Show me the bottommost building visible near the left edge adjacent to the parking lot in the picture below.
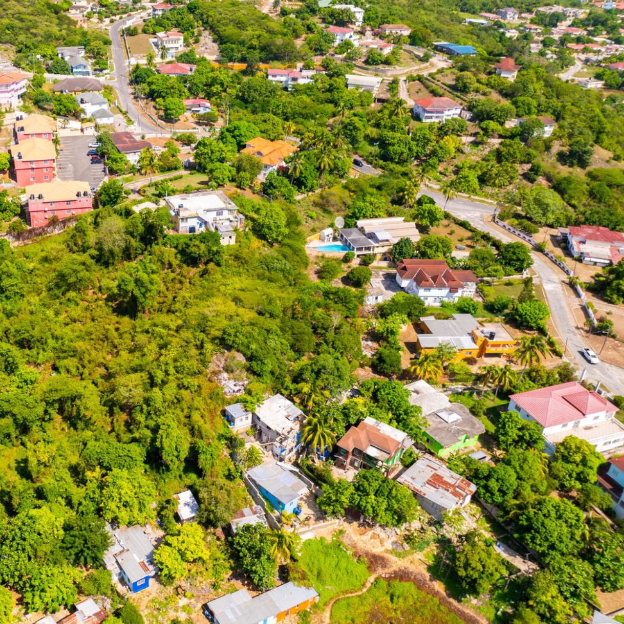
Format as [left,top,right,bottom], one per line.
[19,183,91,227]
